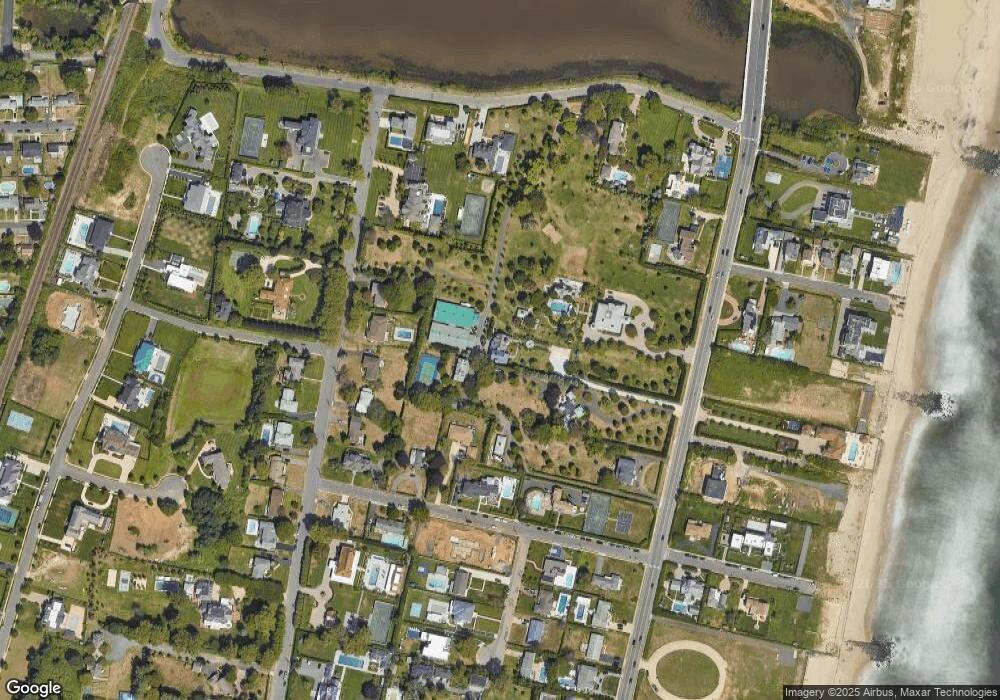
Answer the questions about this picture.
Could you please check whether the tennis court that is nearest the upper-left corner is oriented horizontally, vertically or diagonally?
vertically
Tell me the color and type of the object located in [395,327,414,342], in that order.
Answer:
white swimming pool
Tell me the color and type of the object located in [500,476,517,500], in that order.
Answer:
white swimming pool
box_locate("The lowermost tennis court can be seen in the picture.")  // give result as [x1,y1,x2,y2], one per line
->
[370,602,395,641]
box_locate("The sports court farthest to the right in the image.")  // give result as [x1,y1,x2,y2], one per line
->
[823,151,849,176]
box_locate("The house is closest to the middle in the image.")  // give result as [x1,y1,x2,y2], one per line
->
[485,329,510,363]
